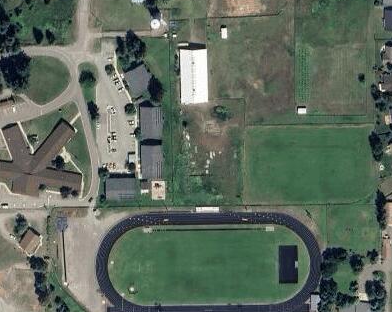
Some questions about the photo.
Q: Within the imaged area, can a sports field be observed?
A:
Yes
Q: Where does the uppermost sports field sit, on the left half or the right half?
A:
right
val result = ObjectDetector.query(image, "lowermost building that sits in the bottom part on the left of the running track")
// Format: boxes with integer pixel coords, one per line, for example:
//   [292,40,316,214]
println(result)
[17,228,44,254]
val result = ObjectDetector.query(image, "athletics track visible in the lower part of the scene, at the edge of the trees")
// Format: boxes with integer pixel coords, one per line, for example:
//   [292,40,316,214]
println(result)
[95,212,322,312]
